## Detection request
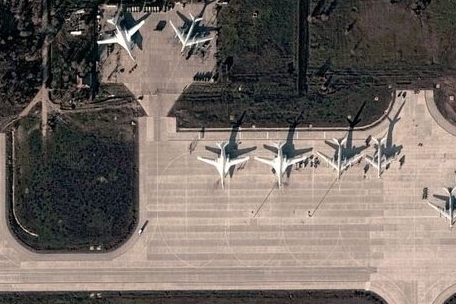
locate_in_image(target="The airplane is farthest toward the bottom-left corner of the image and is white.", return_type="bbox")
[197,139,249,188]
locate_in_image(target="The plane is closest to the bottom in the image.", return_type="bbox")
[427,184,456,228]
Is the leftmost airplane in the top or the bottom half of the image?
top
